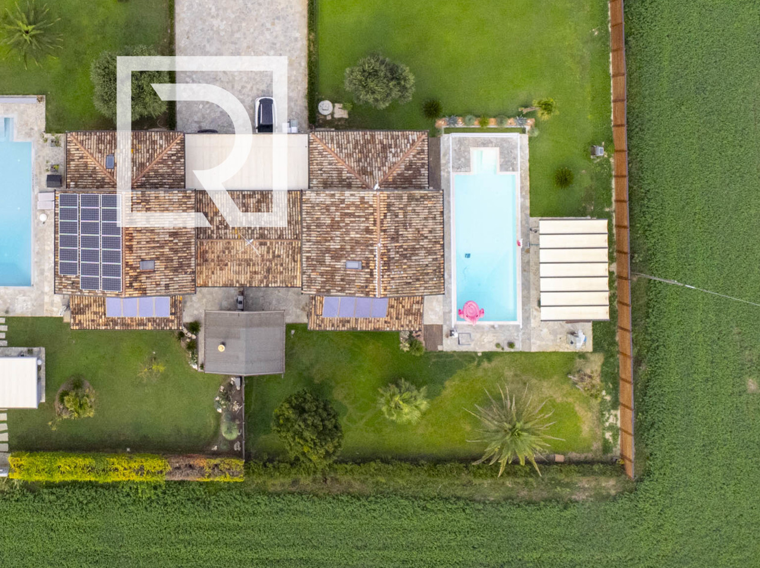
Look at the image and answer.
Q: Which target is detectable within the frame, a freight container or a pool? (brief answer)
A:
pool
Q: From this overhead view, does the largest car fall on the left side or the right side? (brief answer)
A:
left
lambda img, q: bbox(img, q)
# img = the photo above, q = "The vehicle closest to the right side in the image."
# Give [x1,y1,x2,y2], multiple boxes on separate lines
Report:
[254,99,275,134]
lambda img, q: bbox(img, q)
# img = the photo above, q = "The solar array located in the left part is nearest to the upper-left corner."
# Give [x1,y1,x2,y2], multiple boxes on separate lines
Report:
[58,194,121,290]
